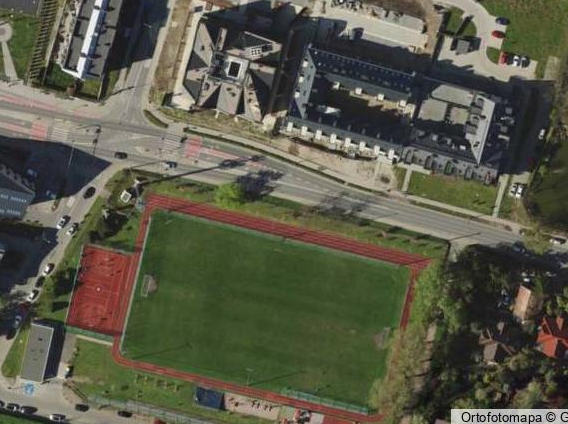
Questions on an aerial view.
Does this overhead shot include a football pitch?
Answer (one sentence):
Yes, there is a football pitch in the image.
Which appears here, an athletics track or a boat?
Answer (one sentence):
Of the two, only an athletics track appears.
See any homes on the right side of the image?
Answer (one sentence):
Yes, the scene does show a home on the right side of the image.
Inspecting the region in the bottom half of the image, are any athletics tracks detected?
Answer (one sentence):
Yes, the scene does show an athletics track in the bottom half of the image.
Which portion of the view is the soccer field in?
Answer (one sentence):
You can find the soccer field in the bottom area of the picture.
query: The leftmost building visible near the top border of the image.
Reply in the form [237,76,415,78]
[63,0,125,78]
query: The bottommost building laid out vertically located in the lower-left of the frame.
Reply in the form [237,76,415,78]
[21,322,54,382]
